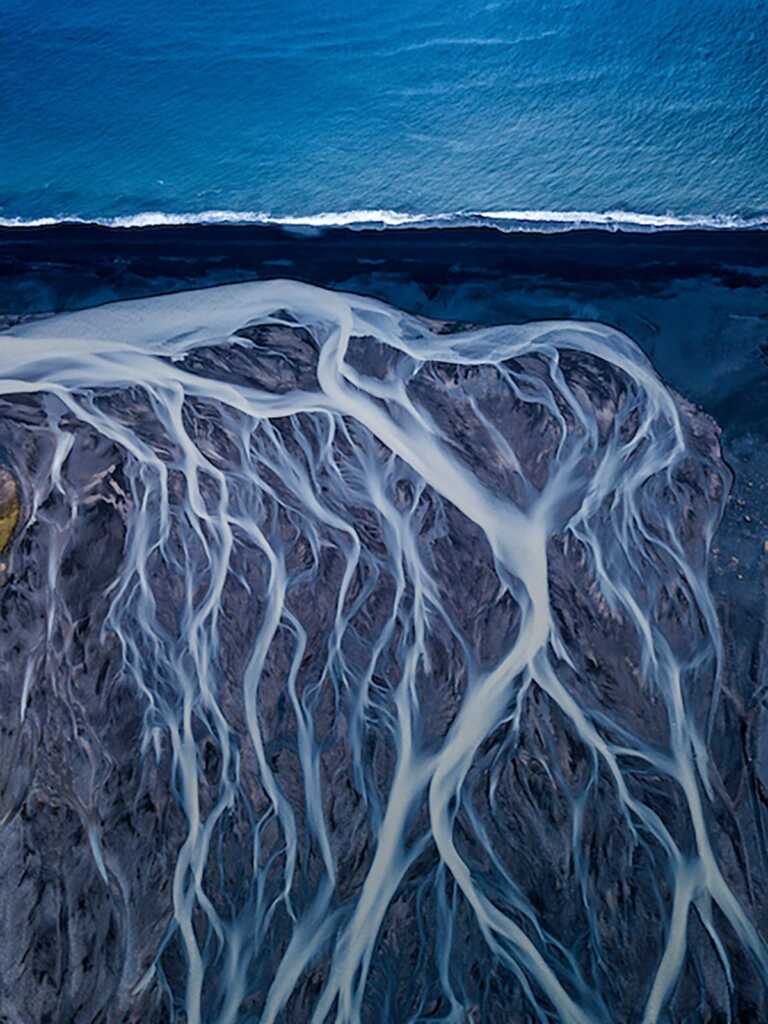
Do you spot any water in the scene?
Yes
